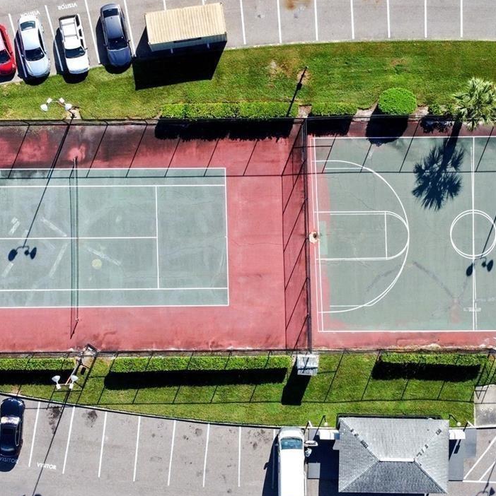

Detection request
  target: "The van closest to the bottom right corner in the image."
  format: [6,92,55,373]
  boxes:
[276,425,316,496]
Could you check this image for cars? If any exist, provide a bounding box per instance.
[101,4,134,70]
[0,23,20,80]
[59,14,92,75]
[18,15,54,80]
[0,397,24,457]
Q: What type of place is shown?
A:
sports ground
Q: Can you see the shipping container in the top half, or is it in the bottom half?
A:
top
